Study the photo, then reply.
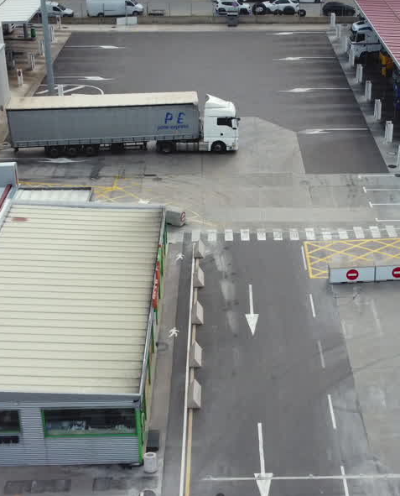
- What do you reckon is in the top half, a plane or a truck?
truck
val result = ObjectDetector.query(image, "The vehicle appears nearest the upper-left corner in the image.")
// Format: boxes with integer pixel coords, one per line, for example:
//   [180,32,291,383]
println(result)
[44,0,81,15]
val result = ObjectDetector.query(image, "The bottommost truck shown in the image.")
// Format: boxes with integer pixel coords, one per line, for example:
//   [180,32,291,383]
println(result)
[9,94,239,158]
